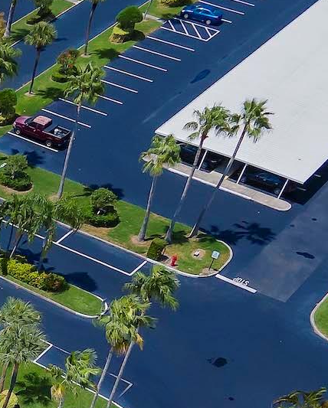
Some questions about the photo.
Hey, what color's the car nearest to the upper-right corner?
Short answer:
blue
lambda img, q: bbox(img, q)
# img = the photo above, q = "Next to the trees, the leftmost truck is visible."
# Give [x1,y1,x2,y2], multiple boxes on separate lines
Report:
[18,115,73,144]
